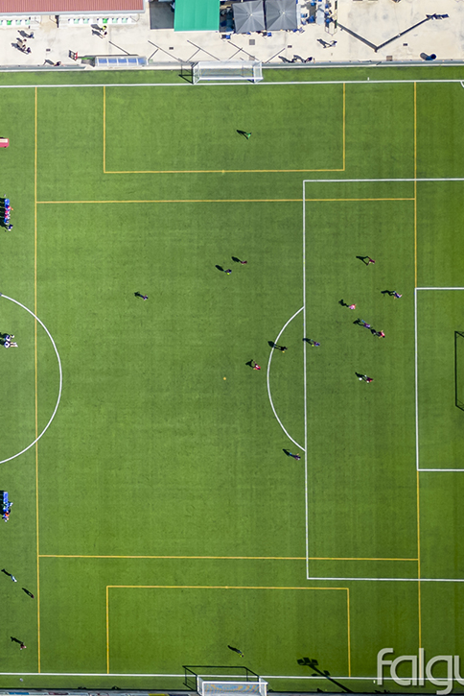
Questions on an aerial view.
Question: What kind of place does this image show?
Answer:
sports ground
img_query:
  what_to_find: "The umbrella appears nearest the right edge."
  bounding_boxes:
[265,0,297,31]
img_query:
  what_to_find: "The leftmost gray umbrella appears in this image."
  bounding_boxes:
[231,0,265,34]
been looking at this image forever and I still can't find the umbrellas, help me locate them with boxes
[265,0,297,31]
[231,0,265,34]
